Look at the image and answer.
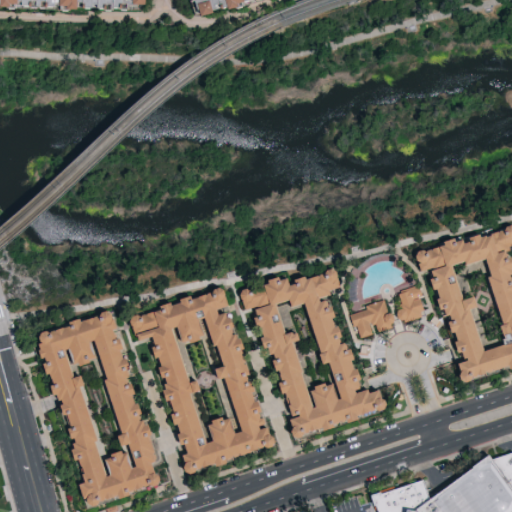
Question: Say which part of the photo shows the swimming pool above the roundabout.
right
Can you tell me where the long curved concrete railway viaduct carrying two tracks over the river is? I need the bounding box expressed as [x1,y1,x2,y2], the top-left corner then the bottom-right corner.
[0,0,370,247]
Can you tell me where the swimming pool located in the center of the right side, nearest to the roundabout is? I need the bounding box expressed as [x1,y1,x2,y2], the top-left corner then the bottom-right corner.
[349,253,416,312]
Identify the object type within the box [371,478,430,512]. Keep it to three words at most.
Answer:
building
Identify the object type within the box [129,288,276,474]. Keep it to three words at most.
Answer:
building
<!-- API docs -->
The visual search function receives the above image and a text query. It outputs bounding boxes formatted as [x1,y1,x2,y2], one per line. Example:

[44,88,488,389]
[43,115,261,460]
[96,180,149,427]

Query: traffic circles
[386,332,430,376]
